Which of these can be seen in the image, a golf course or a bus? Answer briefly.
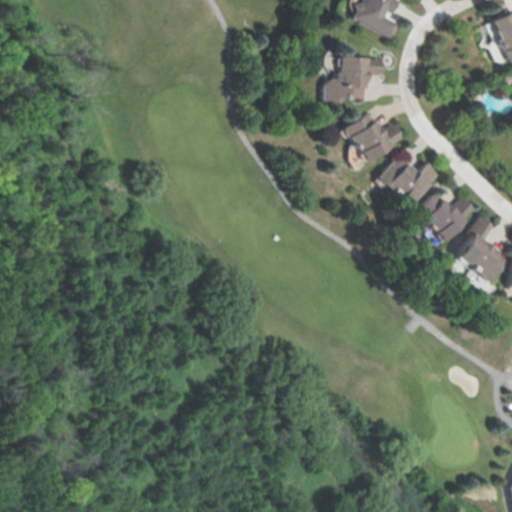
golf course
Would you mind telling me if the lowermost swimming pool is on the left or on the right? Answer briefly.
right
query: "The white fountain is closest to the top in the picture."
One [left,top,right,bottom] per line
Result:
[379,51,397,70]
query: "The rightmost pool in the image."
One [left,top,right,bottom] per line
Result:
[476,92,512,118]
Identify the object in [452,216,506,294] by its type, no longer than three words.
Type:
house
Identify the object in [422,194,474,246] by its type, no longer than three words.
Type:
house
